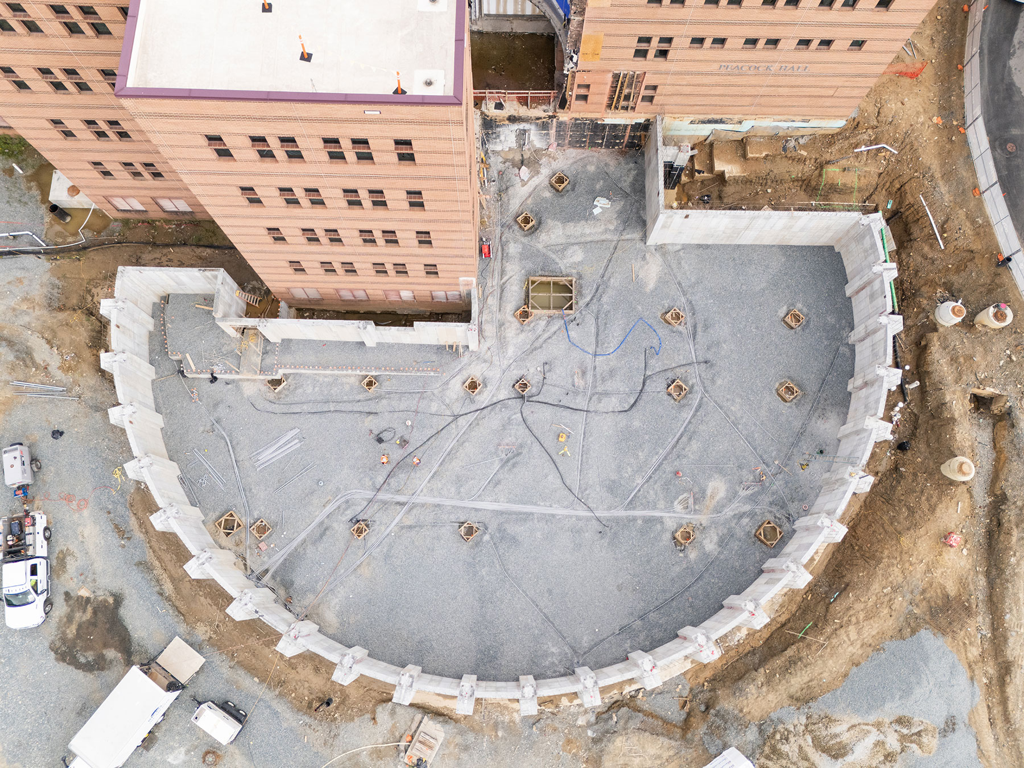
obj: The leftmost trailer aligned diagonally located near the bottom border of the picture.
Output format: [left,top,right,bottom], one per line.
[69,630,211,768]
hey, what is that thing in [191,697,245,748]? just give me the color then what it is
white trailer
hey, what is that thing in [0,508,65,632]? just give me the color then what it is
white truck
